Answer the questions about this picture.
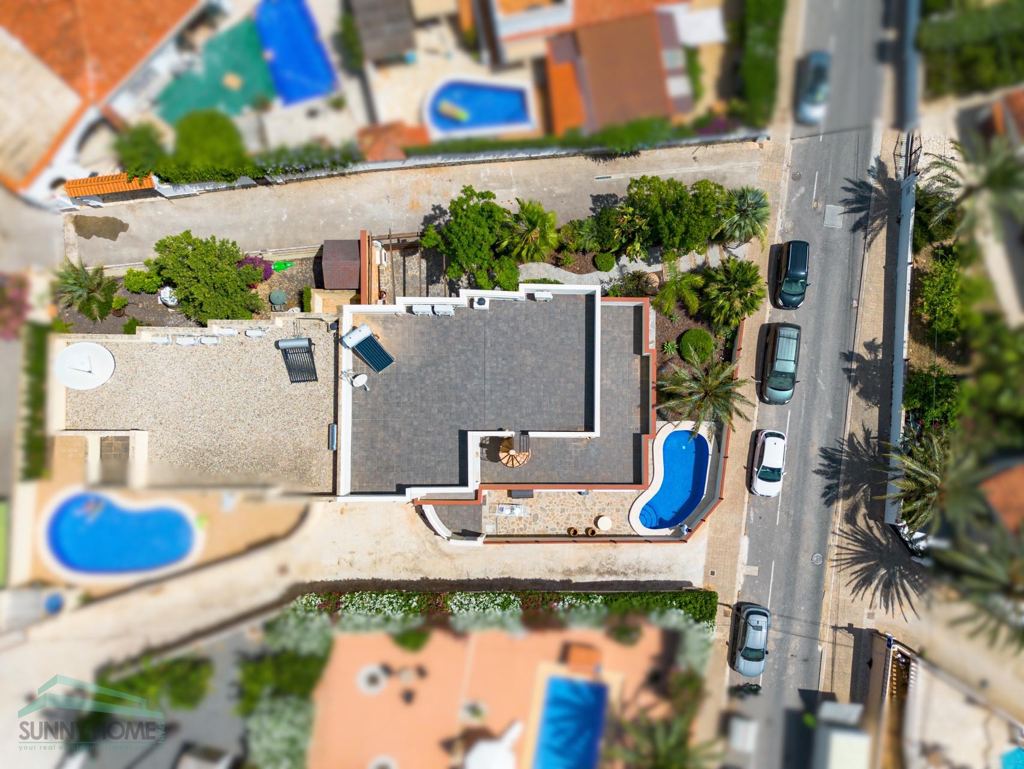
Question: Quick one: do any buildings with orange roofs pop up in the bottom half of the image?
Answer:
Yes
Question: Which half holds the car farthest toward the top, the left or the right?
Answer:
right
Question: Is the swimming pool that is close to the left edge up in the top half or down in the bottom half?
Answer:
bottom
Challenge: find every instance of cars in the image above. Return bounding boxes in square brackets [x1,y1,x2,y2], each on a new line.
[753,430,788,496]
[734,603,771,676]
[776,240,813,310]
[764,325,803,403]
[795,55,833,128]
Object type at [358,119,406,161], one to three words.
shed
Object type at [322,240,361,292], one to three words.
shed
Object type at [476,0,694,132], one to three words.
house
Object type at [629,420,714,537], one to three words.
swimming pool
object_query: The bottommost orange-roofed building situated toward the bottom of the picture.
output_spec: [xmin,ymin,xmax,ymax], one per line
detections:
[567,642,603,674]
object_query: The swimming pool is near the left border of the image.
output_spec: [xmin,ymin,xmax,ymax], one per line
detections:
[41,484,203,582]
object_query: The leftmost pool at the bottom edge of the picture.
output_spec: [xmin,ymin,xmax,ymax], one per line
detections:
[527,667,617,769]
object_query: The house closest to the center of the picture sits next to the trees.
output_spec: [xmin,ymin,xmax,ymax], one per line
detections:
[337,284,657,505]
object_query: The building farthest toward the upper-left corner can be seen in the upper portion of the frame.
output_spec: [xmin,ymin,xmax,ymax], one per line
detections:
[0,0,231,203]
